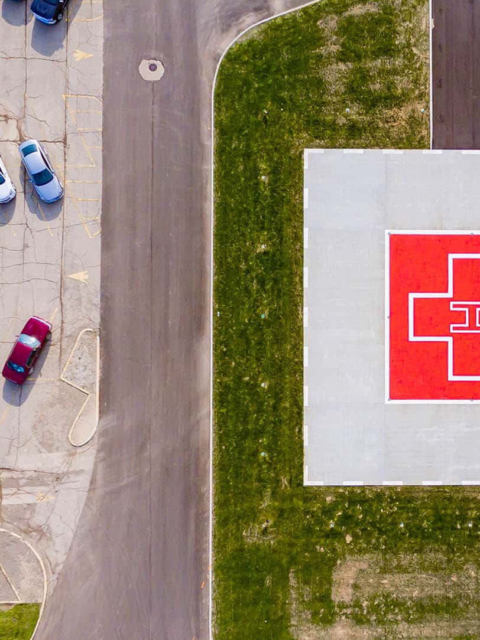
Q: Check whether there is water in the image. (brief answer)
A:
No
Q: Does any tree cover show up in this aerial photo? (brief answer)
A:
No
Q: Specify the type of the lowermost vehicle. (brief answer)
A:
automobile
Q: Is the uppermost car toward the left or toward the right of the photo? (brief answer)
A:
left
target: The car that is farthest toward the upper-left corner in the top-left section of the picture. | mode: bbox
[33,0,69,27]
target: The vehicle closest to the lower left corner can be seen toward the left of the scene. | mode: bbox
[3,318,51,384]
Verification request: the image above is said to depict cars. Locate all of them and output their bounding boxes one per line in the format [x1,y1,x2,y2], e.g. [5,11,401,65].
[0,151,16,203]
[33,0,69,27]
[22,140,63,203]
[3,318,51,384]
